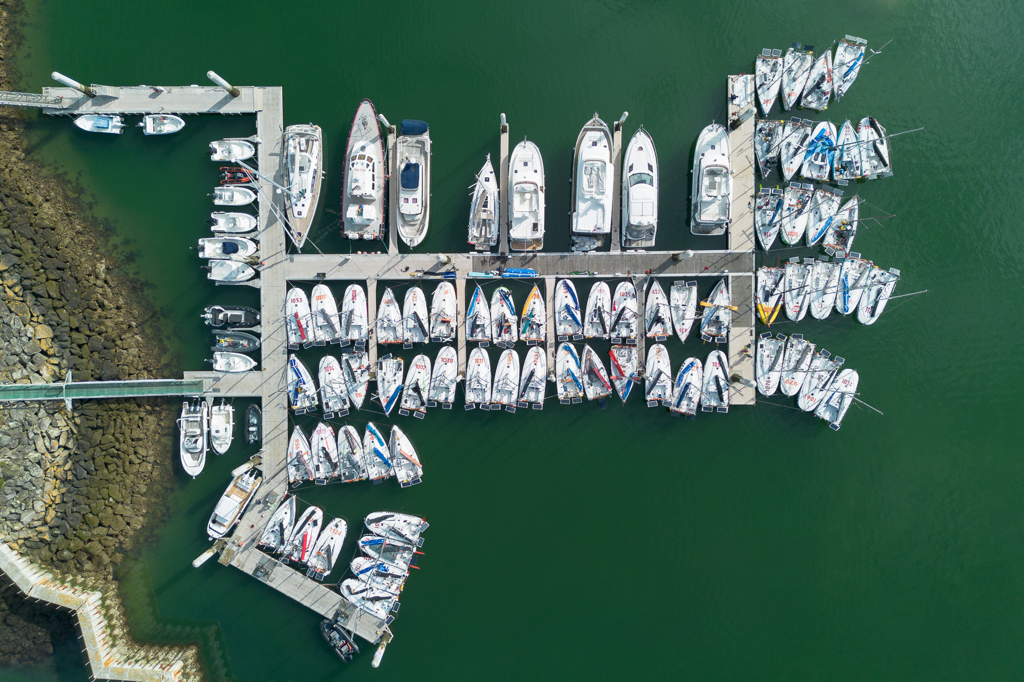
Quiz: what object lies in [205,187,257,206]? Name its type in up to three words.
boat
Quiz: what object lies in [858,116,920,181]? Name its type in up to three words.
boat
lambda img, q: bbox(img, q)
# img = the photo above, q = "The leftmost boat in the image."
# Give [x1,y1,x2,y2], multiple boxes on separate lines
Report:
[74,113,130,133]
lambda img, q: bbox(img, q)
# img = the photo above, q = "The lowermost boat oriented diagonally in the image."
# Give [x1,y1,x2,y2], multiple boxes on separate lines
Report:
[320,620,360,666]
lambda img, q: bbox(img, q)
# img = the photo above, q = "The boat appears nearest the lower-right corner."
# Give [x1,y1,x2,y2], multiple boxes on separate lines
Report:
[816,368,881,432]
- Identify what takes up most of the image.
water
